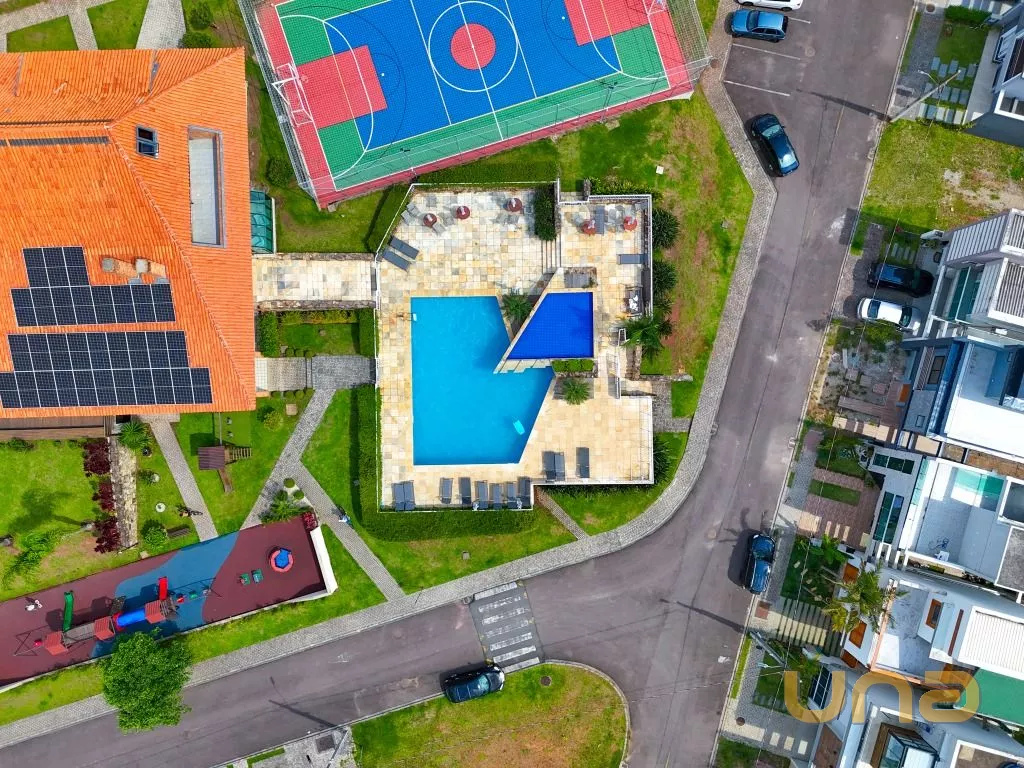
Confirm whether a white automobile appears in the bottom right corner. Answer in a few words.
No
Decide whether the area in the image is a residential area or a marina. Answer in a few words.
residential area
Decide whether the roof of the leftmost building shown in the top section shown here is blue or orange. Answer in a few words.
orange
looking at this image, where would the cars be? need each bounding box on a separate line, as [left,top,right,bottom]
[748,114,798,177]
[740,0,803,11]
[440,662,505,710]
[726,3,791,42]
[854,295,914,333]
[735,526,774,591]
[862,257,928,297]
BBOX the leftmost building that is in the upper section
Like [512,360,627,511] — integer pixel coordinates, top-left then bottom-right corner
[0,45,256,416]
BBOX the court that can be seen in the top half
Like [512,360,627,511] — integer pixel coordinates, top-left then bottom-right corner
[261,0,697,207]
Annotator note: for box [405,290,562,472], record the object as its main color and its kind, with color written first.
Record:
blue swimming pool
